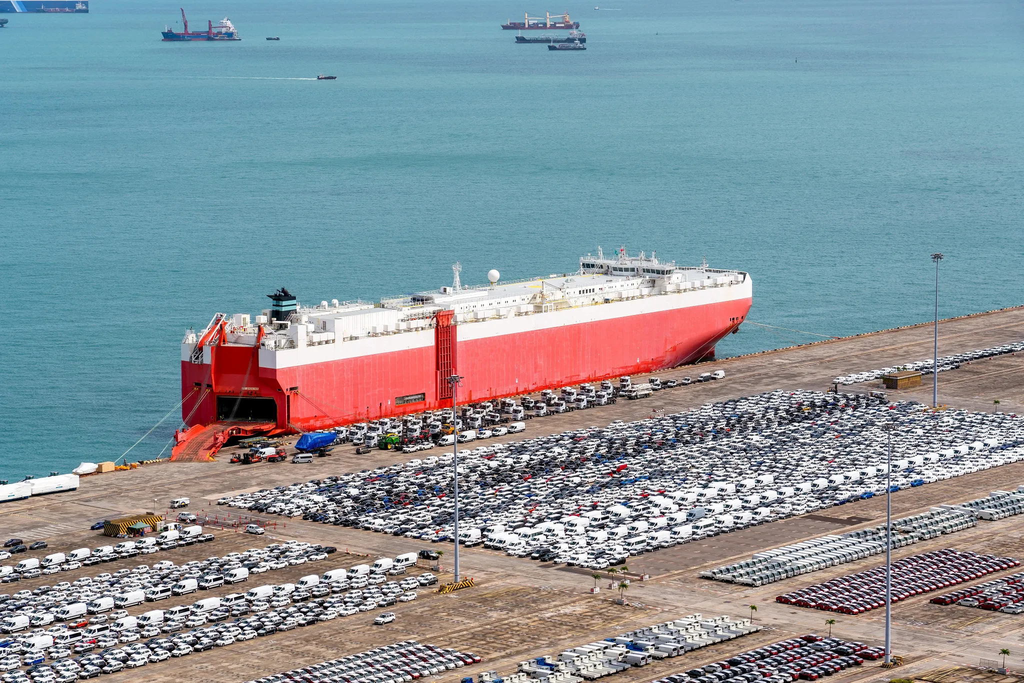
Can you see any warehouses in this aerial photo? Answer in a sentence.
No, the photo shows no warehouse.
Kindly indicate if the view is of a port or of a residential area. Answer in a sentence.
It's a port.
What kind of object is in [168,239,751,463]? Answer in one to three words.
ship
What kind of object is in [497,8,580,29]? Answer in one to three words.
ship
